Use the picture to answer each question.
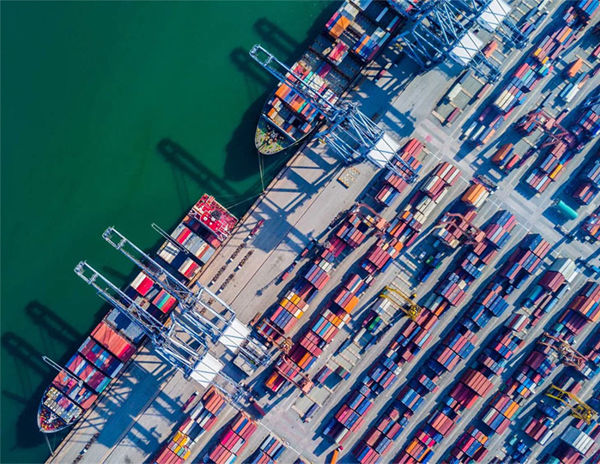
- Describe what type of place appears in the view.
port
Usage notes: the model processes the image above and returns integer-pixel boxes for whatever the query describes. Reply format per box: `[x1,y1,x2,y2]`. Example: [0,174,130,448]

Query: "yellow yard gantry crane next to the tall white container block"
[542,382,599,429]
